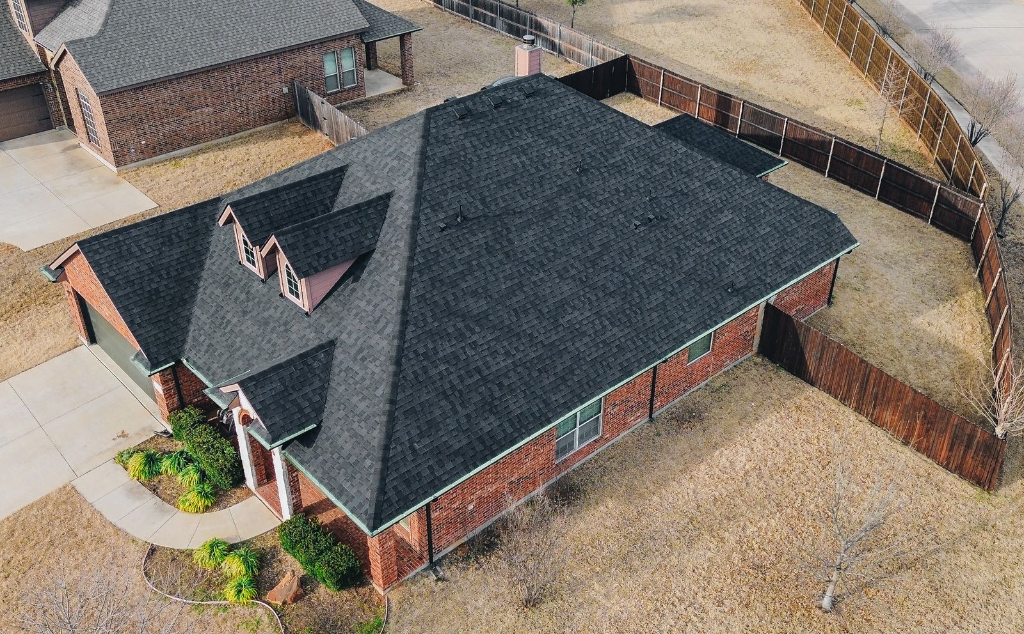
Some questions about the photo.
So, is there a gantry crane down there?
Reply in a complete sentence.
No, I can see no gantry crane in this picture.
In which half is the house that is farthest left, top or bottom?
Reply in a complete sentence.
The house that is farthest left is in the top half of the image.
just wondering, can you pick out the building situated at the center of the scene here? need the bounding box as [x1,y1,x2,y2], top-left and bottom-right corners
[52,38,860,595]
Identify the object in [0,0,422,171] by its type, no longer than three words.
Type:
house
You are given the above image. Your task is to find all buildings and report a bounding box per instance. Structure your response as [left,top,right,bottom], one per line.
[52,38,860,595]
[0,0,422,171]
